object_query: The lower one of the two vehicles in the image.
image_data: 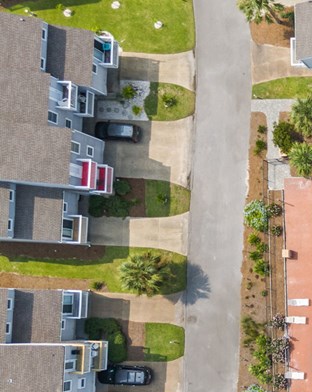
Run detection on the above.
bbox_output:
[98,364,151,388]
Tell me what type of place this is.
residential area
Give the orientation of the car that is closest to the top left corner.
horizontally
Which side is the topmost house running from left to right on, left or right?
left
